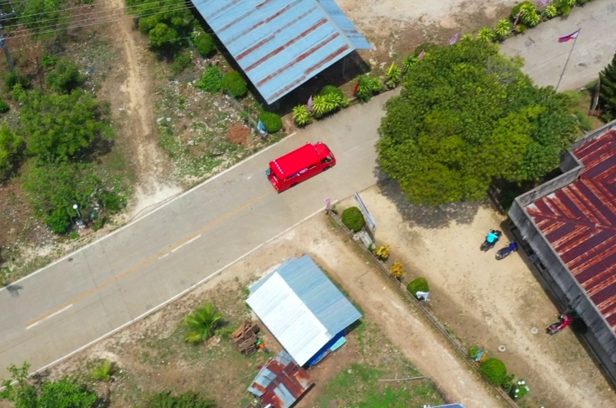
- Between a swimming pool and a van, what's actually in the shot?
van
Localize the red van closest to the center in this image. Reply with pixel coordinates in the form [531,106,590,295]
[269,143,341,195]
